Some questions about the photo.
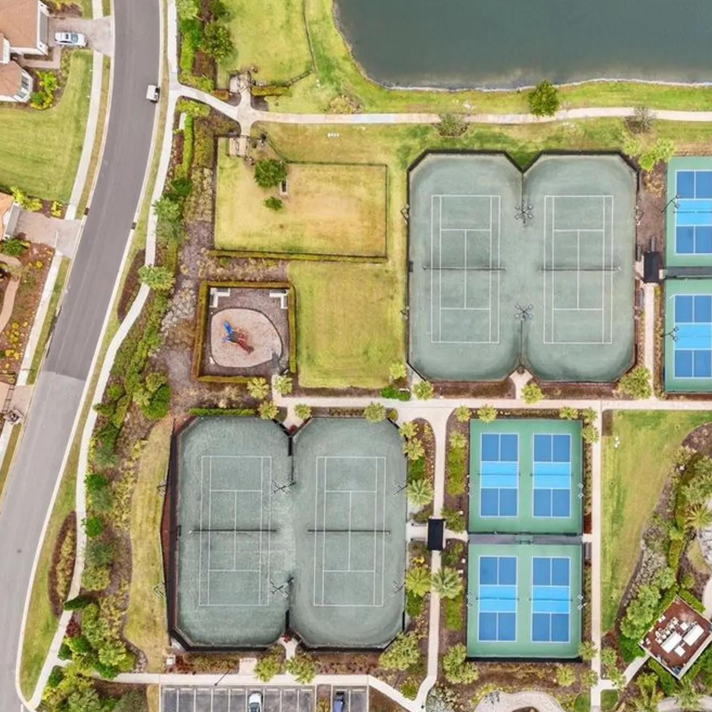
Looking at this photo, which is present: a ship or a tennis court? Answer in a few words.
tennis court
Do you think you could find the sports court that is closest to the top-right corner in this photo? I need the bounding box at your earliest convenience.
[665,157,712,267]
